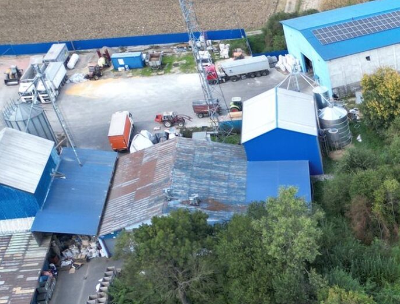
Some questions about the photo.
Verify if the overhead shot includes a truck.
Yes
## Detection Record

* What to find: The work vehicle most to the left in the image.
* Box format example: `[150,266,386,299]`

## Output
[4,65,20,88]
